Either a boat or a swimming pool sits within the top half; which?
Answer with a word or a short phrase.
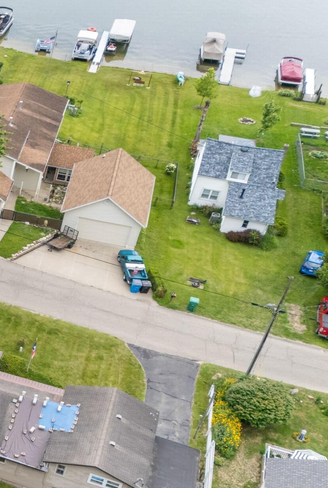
boat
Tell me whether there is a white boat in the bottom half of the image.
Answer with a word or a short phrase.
No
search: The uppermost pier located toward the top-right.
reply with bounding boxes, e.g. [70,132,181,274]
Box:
[217,38,266,87]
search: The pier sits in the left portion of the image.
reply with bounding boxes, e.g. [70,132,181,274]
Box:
[88,31,110,74]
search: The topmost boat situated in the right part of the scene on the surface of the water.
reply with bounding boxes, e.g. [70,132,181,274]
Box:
[201,30,226,65]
